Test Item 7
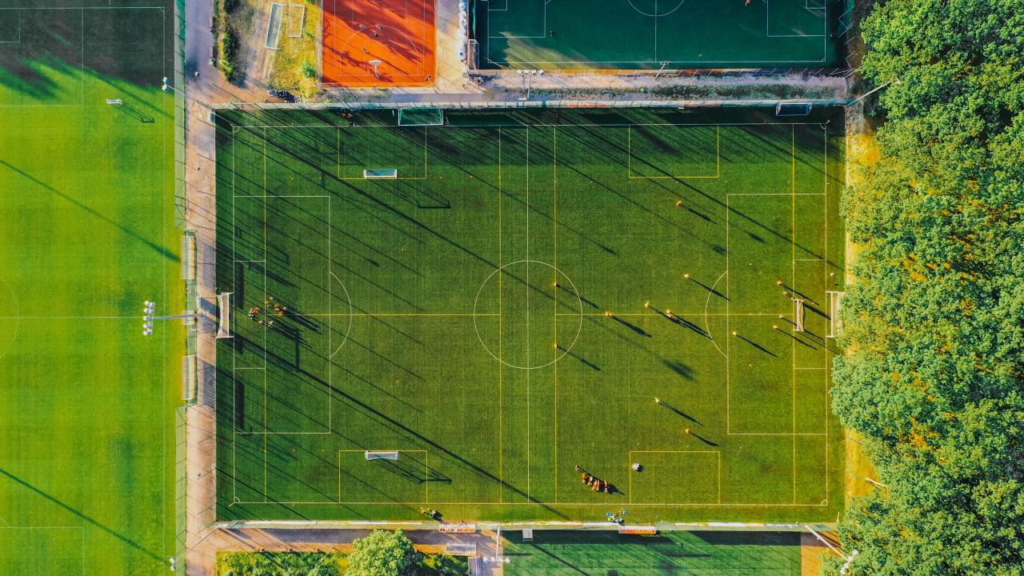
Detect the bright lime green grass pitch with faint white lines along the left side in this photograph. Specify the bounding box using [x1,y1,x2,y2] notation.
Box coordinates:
[0,0,196,576]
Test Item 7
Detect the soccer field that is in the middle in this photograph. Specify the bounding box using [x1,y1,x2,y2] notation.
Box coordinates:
[216,106,845,522]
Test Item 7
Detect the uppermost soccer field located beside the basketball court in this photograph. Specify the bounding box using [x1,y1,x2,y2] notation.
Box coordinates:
[477,0,842,70]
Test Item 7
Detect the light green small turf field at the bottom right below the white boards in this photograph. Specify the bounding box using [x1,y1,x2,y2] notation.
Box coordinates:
[504,528,801,576]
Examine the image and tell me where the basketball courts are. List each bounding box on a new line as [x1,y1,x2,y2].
[322,0,436,87]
